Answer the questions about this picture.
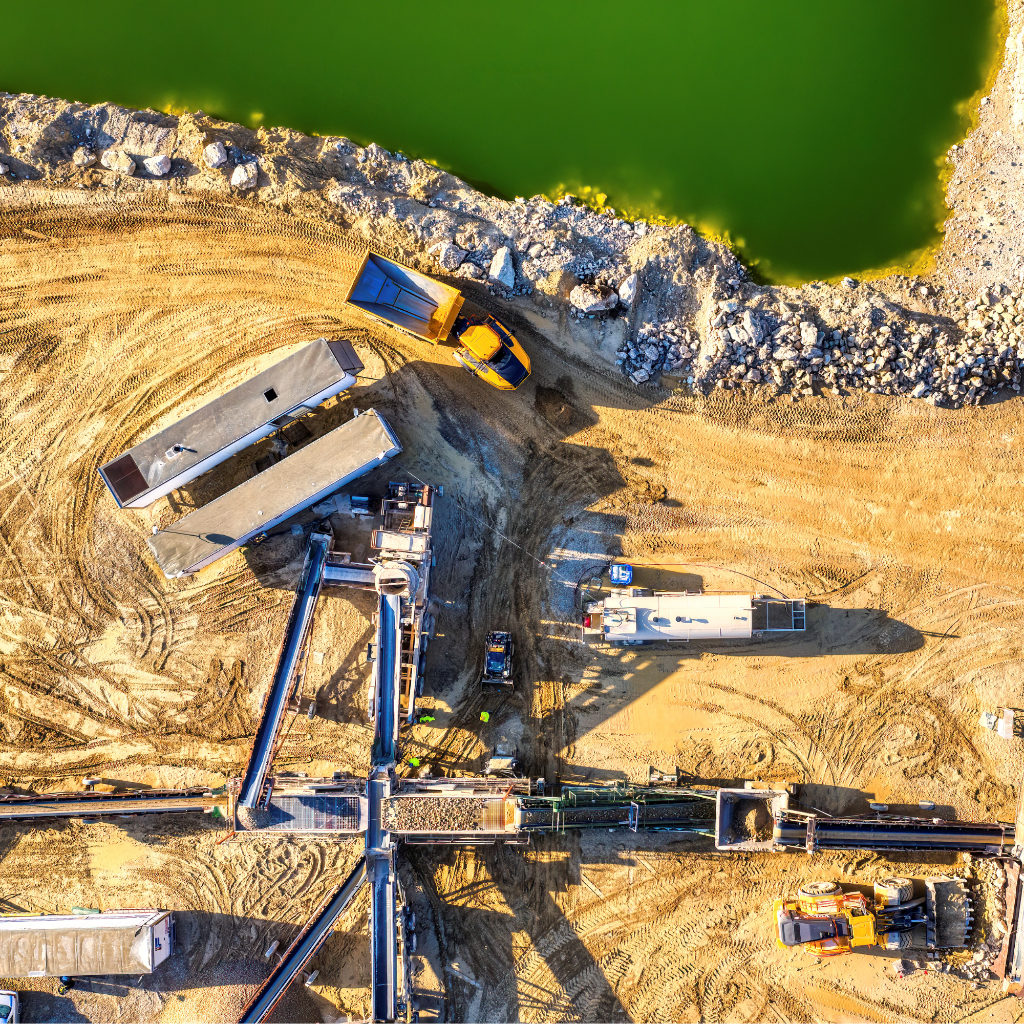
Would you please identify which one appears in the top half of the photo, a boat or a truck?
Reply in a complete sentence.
The one visible in the top half of the photo is a truck.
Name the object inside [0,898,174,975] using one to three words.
trailer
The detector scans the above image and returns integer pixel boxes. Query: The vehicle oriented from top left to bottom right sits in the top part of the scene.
[346,251,530,396]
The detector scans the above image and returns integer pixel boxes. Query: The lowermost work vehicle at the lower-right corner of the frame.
[769,875,971,957]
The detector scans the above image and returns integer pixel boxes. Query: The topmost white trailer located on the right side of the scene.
[581,587,806,645]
